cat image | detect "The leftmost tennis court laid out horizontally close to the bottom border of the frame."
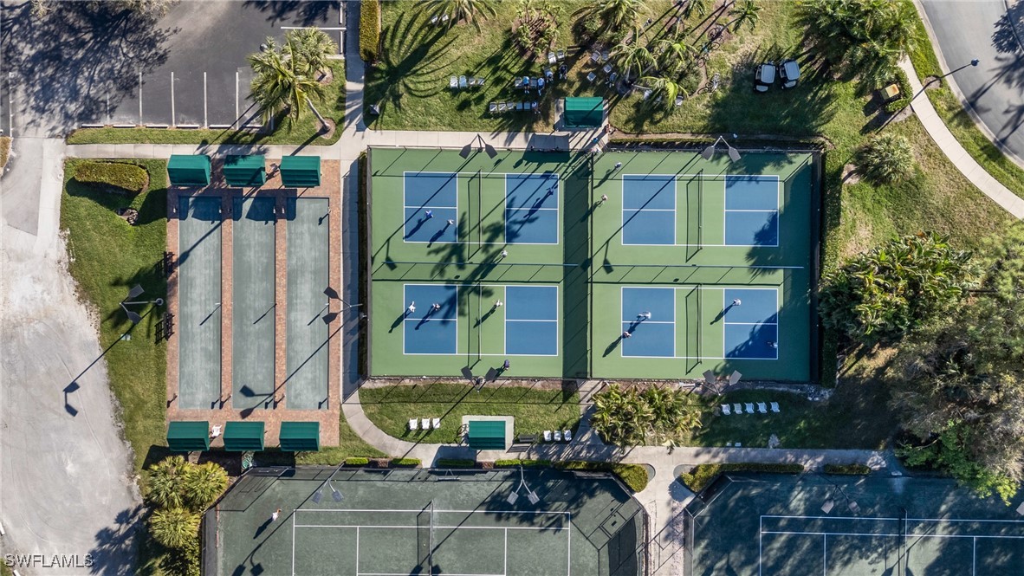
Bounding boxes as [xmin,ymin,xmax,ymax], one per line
[216,468,641,576]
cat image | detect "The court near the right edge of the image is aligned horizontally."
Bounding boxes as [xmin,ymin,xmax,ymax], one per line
[686,474,1024,576]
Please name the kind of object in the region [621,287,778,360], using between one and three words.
sports court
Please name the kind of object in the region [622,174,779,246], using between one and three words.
sports court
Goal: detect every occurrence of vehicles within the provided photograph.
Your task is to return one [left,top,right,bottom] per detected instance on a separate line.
[778,59,802,89]
[756,62,777,91]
